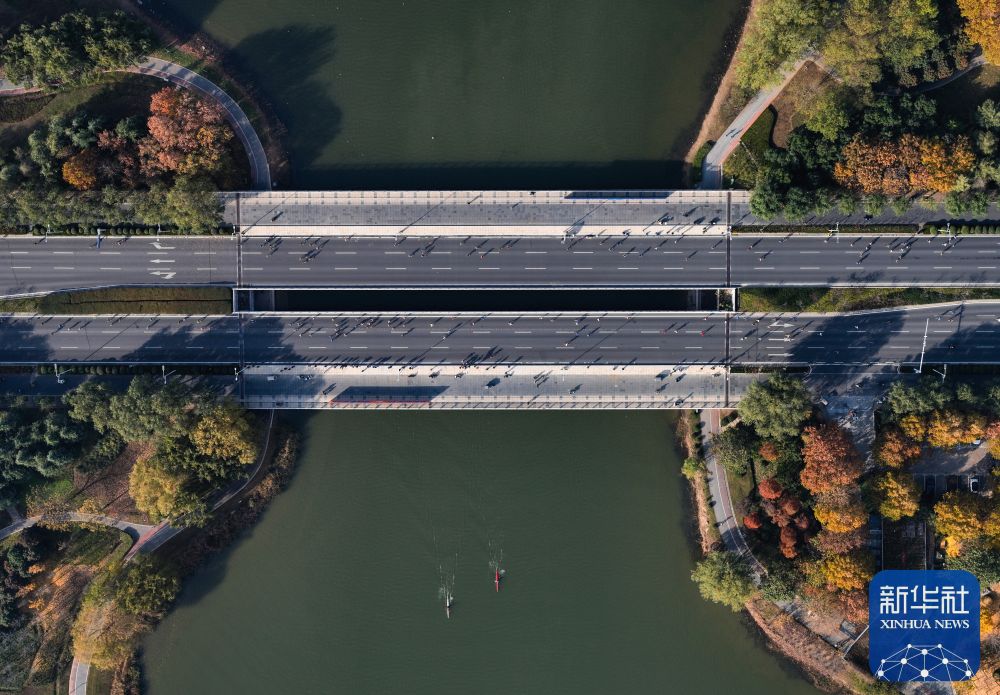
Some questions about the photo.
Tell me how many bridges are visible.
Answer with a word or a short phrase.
two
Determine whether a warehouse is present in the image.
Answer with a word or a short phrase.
No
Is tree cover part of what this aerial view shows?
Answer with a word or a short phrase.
Yes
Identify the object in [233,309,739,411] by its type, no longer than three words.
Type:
bridge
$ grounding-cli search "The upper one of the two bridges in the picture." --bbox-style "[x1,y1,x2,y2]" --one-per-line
[233,190,751,291]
